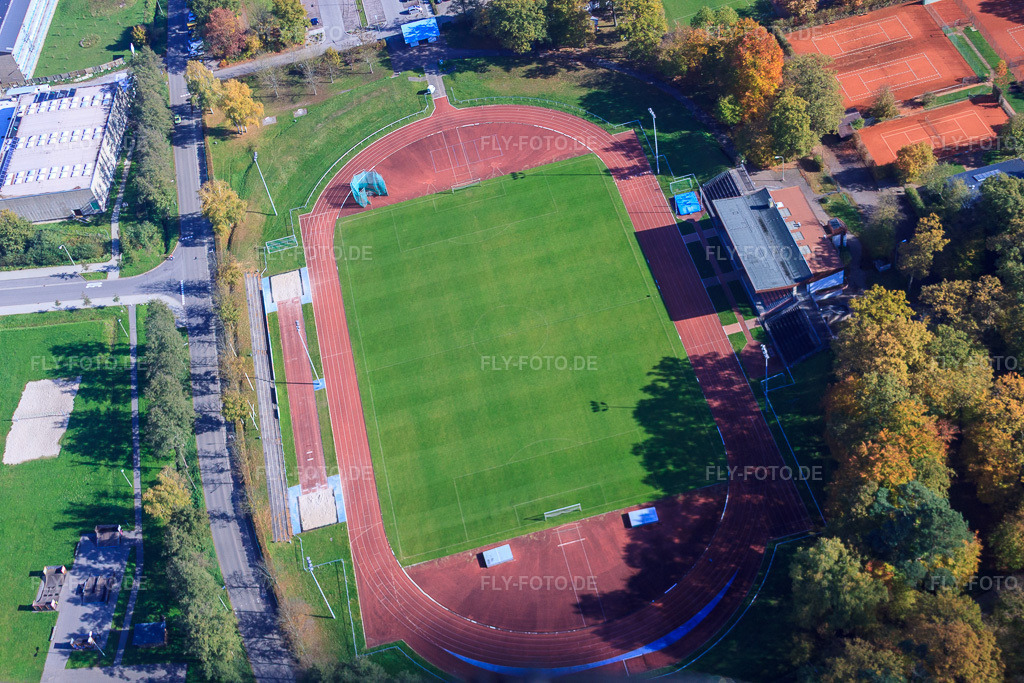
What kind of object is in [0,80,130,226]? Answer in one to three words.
building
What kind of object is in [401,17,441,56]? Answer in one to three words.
building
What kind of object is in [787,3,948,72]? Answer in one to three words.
tennis court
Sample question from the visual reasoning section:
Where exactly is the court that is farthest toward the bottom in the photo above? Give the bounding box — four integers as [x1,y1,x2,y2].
[4,377,81,463]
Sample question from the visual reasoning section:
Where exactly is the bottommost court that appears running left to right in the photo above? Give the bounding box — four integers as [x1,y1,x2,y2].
[861,95,1008,168]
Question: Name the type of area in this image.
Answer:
sports ground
